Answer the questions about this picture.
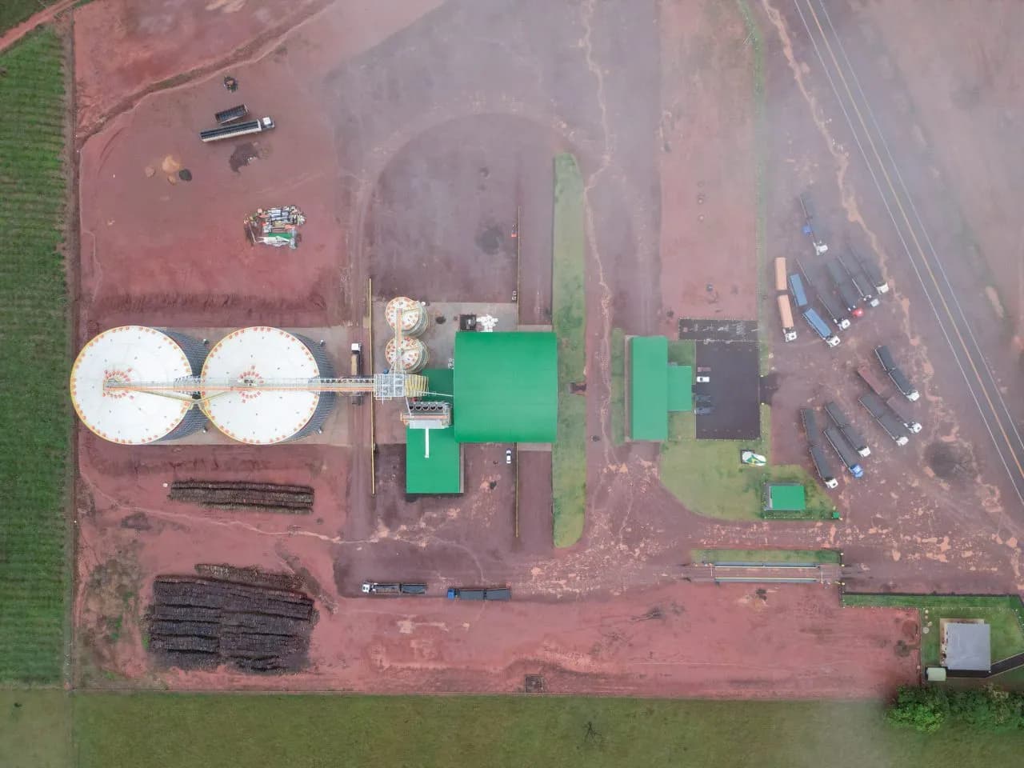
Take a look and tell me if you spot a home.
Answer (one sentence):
Yes, the frame does contain a home.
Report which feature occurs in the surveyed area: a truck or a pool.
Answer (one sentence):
The one in the frame is a truck.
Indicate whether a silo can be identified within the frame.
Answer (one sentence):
Yes, a silo can be made out from above.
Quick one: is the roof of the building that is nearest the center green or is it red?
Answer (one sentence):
The roof of the building that is nearest the center is green.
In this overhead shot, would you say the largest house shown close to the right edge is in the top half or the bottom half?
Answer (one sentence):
The largest house shown close to the right edge sits in the bottom half of the picture.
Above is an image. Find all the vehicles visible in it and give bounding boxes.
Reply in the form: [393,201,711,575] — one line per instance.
[855,366,922,435]
[799,408,838,490]
[772,257,796,342]
[837,252,880,310]
[201,117,277,144]
[695,366,709,372]
[695,376,709,383]
[447,586,511,600]
[361,581,427,595]
[858,393,909,447]
[505,448,512,463]
[795,257,851,331]
[846,243,888,295]
[824,261,864,320]
[695,406,711,414]
[823,426,862,477]
[350,342,363,376]
[786,273,839,348]
[874,345,919,403]
[824,401,870,458]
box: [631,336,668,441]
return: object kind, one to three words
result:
shed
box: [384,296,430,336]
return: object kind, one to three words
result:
silo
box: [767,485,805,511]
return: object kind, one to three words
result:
building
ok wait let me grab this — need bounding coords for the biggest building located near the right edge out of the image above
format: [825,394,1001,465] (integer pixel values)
[940,618,990,671]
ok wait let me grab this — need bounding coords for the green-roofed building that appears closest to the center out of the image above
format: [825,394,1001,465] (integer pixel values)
[454,332,558,443]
